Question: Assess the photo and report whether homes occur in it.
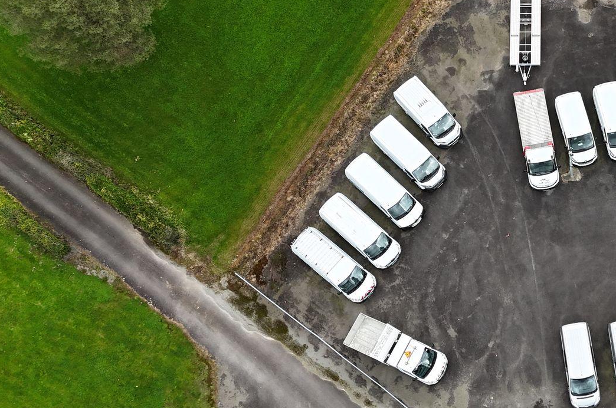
No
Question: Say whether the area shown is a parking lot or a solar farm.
parking lot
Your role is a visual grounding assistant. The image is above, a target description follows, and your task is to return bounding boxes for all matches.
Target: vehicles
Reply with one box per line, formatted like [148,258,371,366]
[292,229,377,305]
[592,85,616,161]
[372,118,444,194]
[560,325,603,408]
[321,195,402,271]
[344,313,448,386]
[348,154,425,232]
[391,75,462,151]
[554,92,599,169]
[512,89,562,190]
